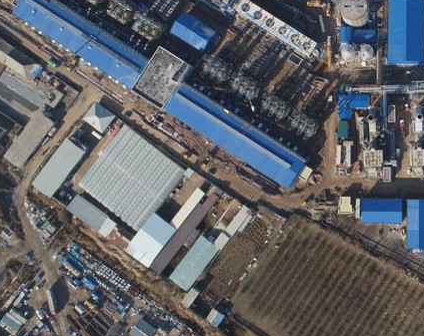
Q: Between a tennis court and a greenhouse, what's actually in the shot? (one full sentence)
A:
There is a greenhouse in the scene.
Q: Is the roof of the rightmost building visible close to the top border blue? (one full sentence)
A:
Yes, the roof of the rightmost building visible close to the top border is blue.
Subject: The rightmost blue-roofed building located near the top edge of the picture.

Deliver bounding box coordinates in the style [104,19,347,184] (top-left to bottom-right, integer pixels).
[388,0,424,67]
